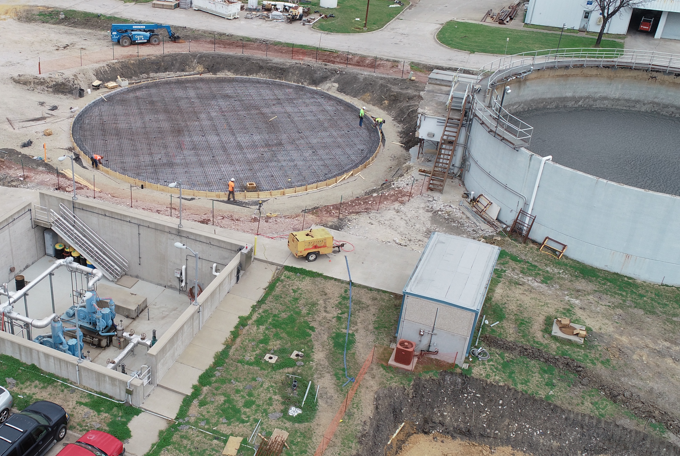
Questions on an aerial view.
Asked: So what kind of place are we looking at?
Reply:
industrial area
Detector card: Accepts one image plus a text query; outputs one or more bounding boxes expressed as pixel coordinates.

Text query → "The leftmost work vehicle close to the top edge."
[112,15,192,47]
